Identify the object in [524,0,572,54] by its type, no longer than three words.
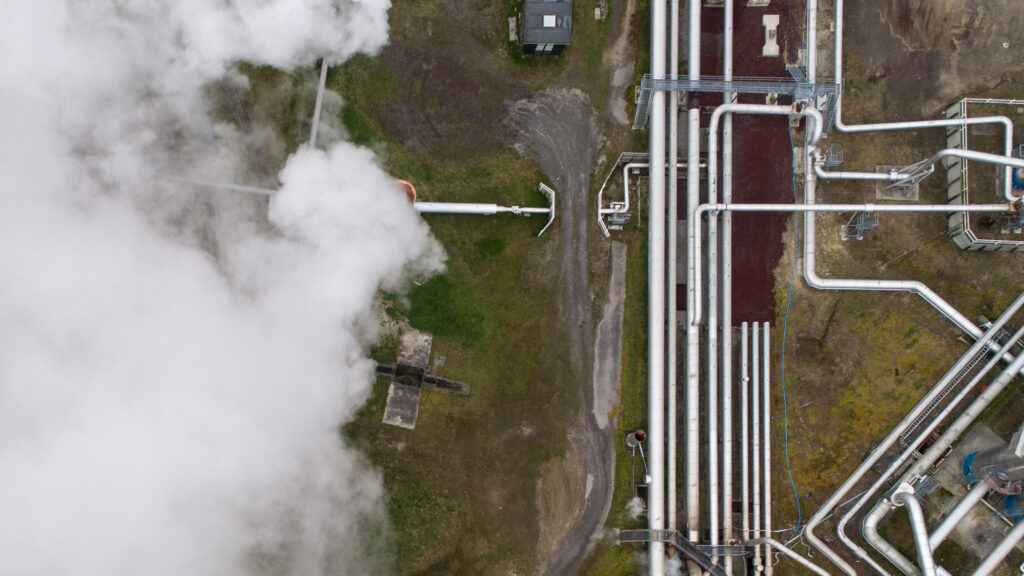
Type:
shed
